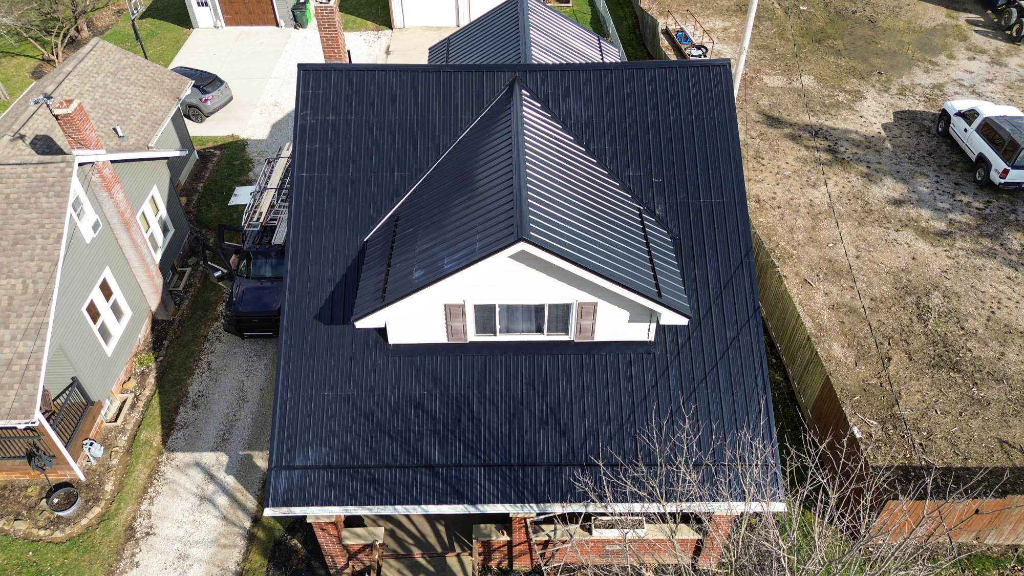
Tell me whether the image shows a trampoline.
No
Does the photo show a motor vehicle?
Yes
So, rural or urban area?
urban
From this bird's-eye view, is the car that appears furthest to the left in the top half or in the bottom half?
top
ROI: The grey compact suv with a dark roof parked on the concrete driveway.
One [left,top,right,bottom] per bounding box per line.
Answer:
[173,67,237,122]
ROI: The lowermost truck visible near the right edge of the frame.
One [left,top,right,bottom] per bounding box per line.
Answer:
[935,100,1024,193]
